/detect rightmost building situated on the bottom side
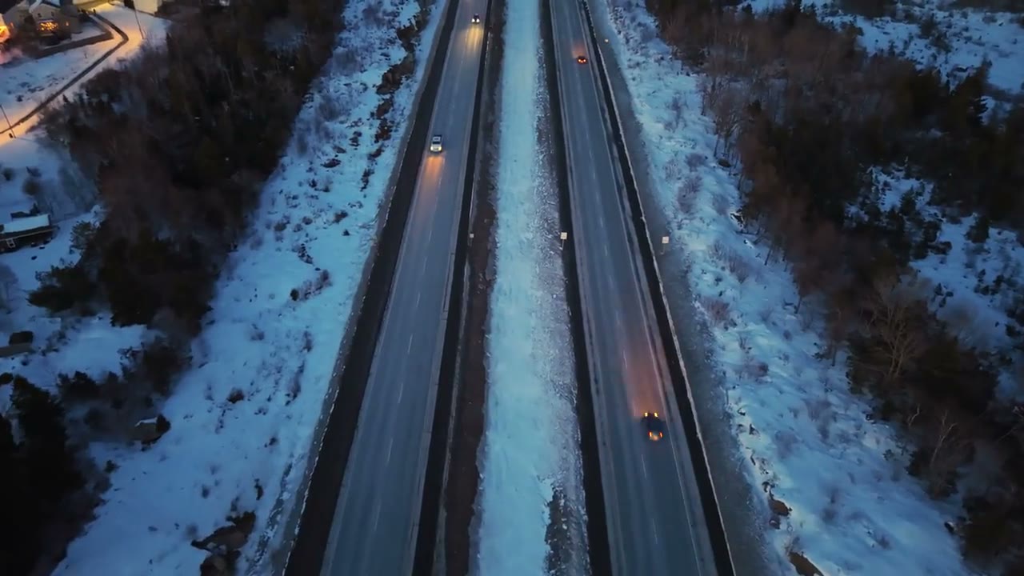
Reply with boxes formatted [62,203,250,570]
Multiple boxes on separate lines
[132,411,172,443]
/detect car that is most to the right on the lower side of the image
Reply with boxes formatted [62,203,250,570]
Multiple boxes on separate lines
[644,411,664,441]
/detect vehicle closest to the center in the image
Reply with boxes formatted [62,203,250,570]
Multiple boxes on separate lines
[430,133,442,149]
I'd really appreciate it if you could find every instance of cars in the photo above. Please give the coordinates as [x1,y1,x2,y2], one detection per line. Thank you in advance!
[472,13,479,21]
[577,53,586,61]
[430,133,442,149]
[644,411,664,441]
